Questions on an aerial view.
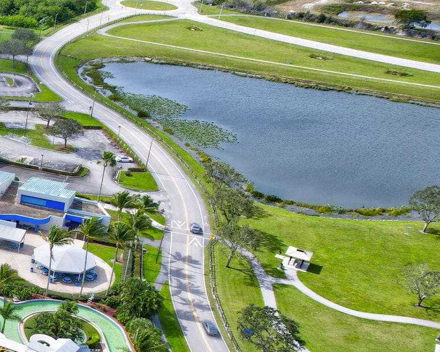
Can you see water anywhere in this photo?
Yes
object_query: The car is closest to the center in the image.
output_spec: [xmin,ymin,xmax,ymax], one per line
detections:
[189,220,203,234]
